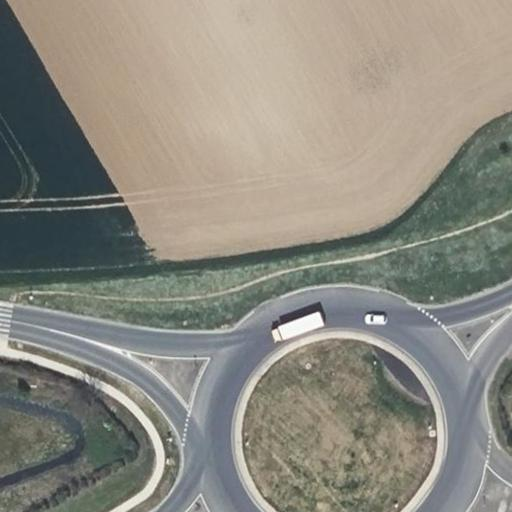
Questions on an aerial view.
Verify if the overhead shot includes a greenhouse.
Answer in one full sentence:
No, there appears to be no greenhouse in this shot.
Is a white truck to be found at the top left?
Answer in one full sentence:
No, at the top left there is no white truck.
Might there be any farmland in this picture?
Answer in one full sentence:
Yes, farmland shows up in the scene.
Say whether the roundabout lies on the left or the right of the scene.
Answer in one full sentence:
The roundabout appears in the right half of the scene.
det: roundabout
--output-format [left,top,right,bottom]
[188,286,490,512]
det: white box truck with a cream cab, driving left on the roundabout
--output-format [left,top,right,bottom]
[271,312,324,342]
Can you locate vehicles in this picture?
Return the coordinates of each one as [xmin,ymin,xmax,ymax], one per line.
[365,314,388,325]
[271,312,324,342]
